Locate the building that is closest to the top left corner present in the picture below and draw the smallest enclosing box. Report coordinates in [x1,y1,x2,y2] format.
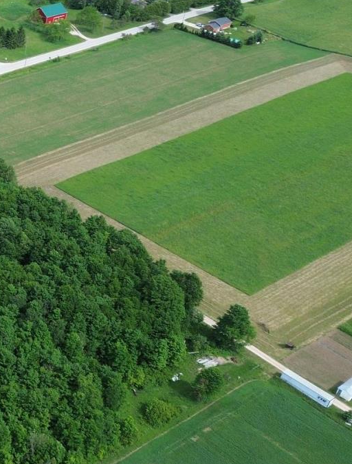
[32,1,69,24]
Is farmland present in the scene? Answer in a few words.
Yes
